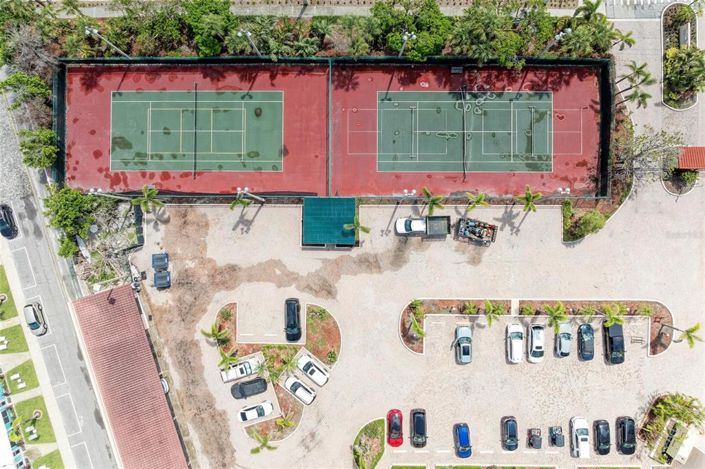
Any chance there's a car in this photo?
Yes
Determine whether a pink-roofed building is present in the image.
Yes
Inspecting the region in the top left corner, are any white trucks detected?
No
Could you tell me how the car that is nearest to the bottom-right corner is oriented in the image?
up and down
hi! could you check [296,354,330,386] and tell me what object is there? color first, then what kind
white car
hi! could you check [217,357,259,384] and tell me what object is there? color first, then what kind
white truck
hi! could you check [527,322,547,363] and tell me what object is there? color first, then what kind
white car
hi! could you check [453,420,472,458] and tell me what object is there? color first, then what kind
blue car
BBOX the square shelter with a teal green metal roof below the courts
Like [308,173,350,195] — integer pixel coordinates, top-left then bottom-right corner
[302,197,356,246]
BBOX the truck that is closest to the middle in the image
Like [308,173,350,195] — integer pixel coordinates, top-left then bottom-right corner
[394,216,451,238]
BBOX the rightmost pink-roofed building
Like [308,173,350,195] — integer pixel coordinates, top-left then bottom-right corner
[71,282,193,469]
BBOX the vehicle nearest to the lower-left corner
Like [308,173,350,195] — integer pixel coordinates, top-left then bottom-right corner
[23,300,49,338]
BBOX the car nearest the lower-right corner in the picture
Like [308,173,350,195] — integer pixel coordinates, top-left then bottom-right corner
[615,415,637,456]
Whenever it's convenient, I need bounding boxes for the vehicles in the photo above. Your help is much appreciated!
[576,322,595,360]
[0,203,18,241]
[23,300,49,338]
[569,415,590,459]
[410,408,428,448]
[217,357,259,384]
[550,422,565,449]
[230,376,269,399]
[386,408,404,447]
[527,322,547,363]
[501,415,519,450]
[506,322,525,363]
[615,415,637,456]
[592,418,612,455]
[283,373,317,406]
[554,322,573,360]
[450,324,472,364]
[453,420,472,458]
[603,317,625,364]
[283,298,302,342]
[529,424,543,451]
[237,399,276,422]
[394,216,451,238]
[296,354,330,386]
